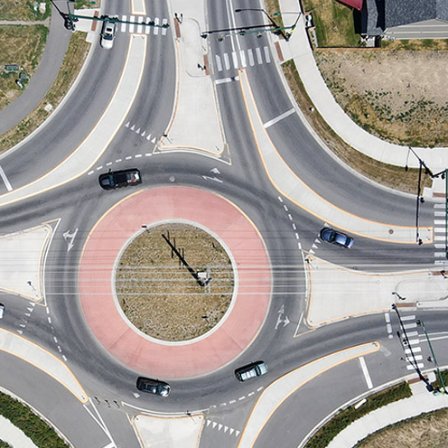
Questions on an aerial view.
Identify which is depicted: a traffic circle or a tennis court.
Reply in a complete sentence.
The one in the frame is a traffic circle.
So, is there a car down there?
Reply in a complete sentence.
Yes, you can see a car in this photo.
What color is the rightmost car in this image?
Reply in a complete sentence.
The color of the rightmost car is blue.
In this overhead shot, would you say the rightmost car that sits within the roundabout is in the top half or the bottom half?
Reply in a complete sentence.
Seen from above, the rightmost car that sits within the roundabout lies in the bottom half of the view.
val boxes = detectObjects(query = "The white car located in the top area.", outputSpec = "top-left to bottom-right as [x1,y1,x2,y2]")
[97,17,115,51]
